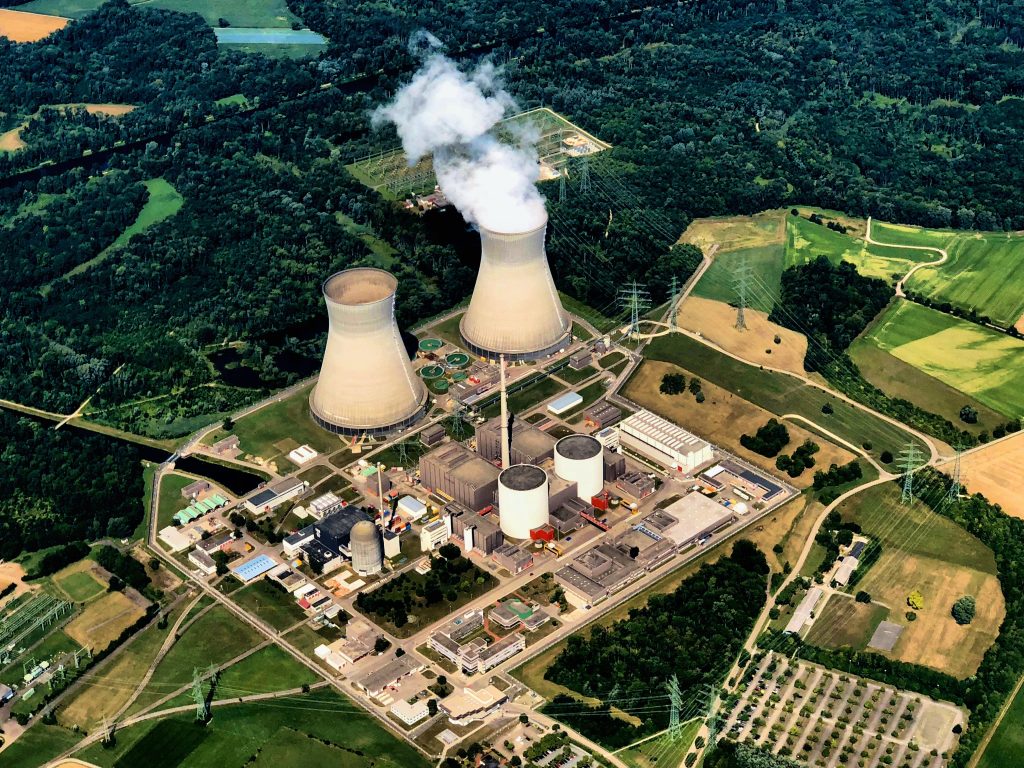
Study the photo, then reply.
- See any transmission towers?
Yes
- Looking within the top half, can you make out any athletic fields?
No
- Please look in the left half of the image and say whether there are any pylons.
Yes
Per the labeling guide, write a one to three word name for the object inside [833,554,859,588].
barn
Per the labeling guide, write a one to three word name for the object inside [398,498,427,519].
shed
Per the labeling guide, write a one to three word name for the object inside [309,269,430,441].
cooling tower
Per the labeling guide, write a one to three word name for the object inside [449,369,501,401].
building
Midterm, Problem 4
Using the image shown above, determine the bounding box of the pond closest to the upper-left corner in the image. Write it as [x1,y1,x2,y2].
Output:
[205,346,269,389]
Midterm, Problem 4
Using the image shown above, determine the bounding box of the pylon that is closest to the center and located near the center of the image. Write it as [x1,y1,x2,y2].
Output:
[447,402,469,444]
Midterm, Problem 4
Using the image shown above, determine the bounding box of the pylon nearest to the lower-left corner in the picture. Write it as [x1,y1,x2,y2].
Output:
[97,703,115,749]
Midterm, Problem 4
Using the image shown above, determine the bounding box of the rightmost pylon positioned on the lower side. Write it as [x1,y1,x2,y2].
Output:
[946,445,974,504]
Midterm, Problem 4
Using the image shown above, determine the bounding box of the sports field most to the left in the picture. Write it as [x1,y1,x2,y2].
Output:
[58,569,104,600]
